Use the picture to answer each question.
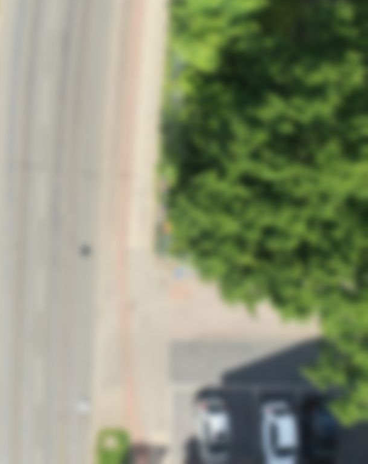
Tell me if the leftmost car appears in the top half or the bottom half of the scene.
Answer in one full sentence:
The leftmost car is in the bottom half of the image.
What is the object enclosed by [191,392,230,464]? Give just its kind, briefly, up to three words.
car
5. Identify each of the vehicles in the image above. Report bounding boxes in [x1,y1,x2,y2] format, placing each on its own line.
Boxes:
[308,397,351,464]
[256,393,300,464]
[191,392,230,464]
